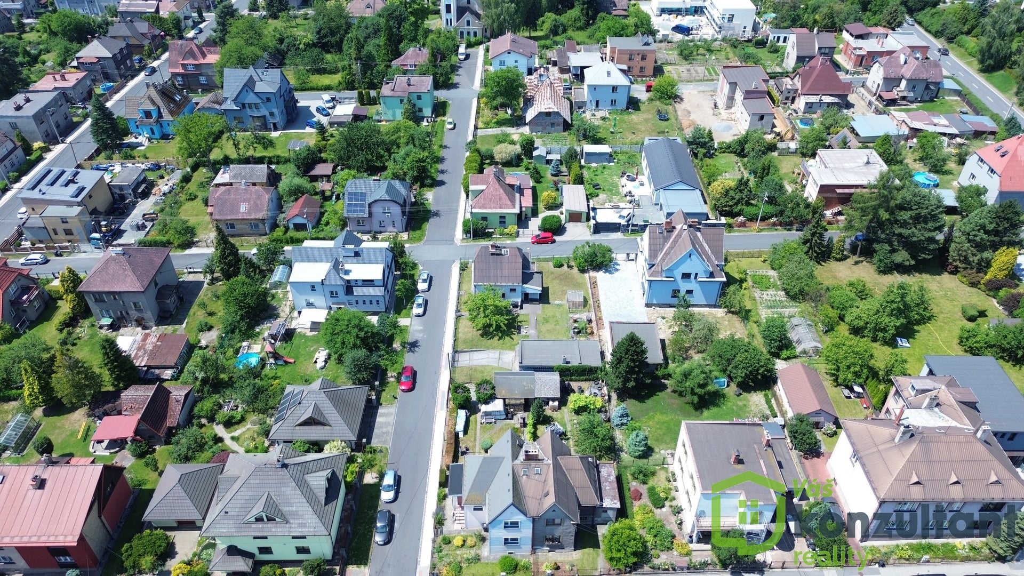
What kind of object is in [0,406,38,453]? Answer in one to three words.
greenhouse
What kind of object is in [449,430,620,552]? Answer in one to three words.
house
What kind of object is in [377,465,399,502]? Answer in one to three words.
car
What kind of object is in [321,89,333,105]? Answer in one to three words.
vehicle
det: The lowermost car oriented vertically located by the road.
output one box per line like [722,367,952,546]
[370,505,393,545]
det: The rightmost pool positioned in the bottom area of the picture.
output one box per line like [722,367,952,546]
[234,355,262,377]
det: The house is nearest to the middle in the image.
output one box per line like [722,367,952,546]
[474,243,543,307]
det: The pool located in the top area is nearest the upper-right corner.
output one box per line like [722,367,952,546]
[909,173,941,187]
